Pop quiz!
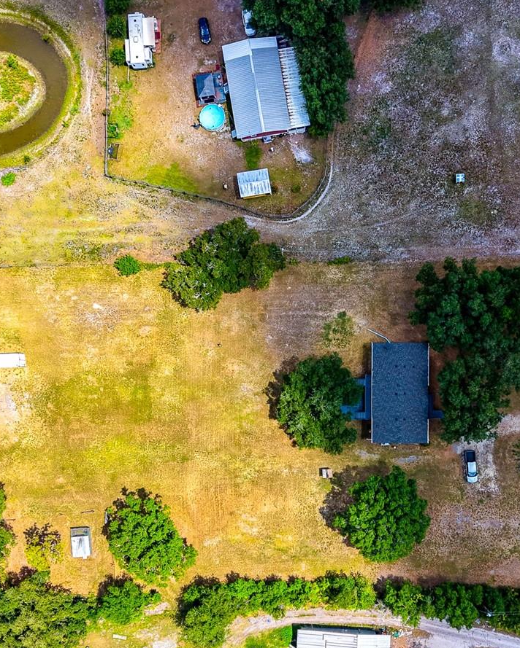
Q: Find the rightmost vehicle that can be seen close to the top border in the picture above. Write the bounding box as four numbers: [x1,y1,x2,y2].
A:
[242,10,255,36]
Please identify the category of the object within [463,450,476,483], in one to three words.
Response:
vehicle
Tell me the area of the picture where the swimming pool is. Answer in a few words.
top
